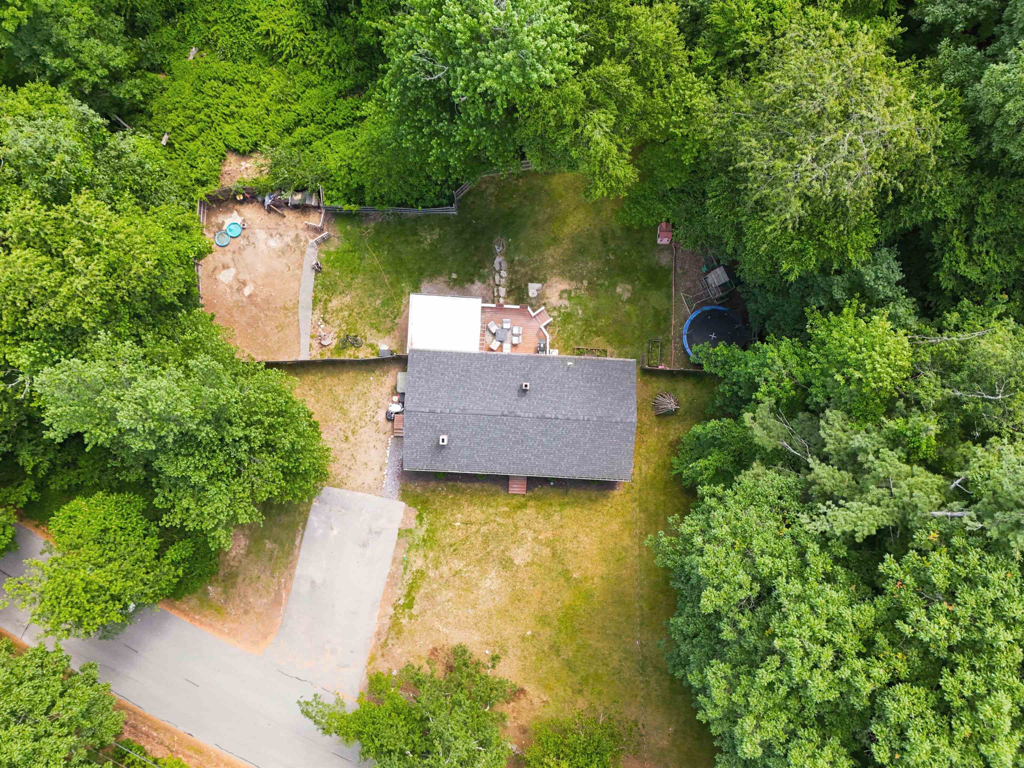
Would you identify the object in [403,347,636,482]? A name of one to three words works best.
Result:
house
